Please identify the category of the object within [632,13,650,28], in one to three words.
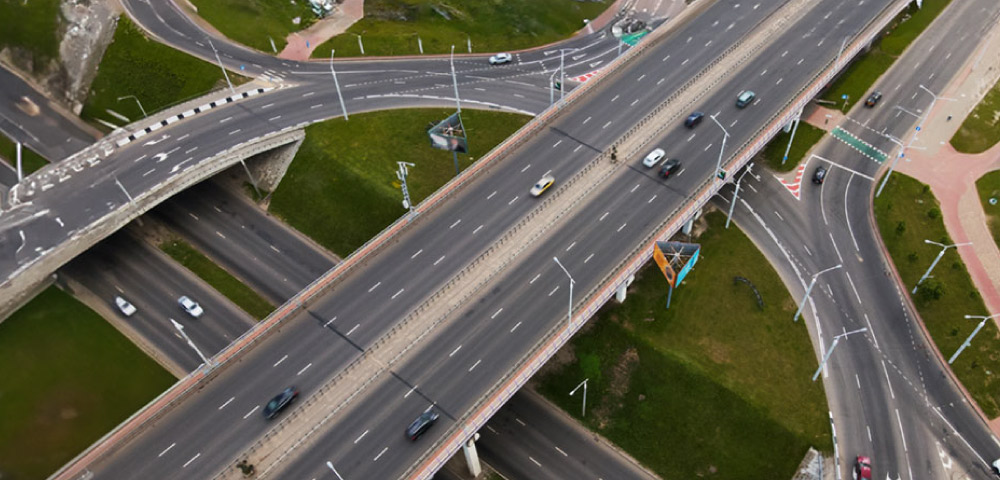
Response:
car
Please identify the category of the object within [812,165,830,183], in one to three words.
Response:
car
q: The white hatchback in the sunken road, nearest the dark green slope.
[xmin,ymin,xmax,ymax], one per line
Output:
[110,296,136,316]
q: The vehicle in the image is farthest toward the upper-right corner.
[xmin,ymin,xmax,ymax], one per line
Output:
[864,90,883,105]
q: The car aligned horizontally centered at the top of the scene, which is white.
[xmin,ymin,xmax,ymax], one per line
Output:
[488,52,513,64]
